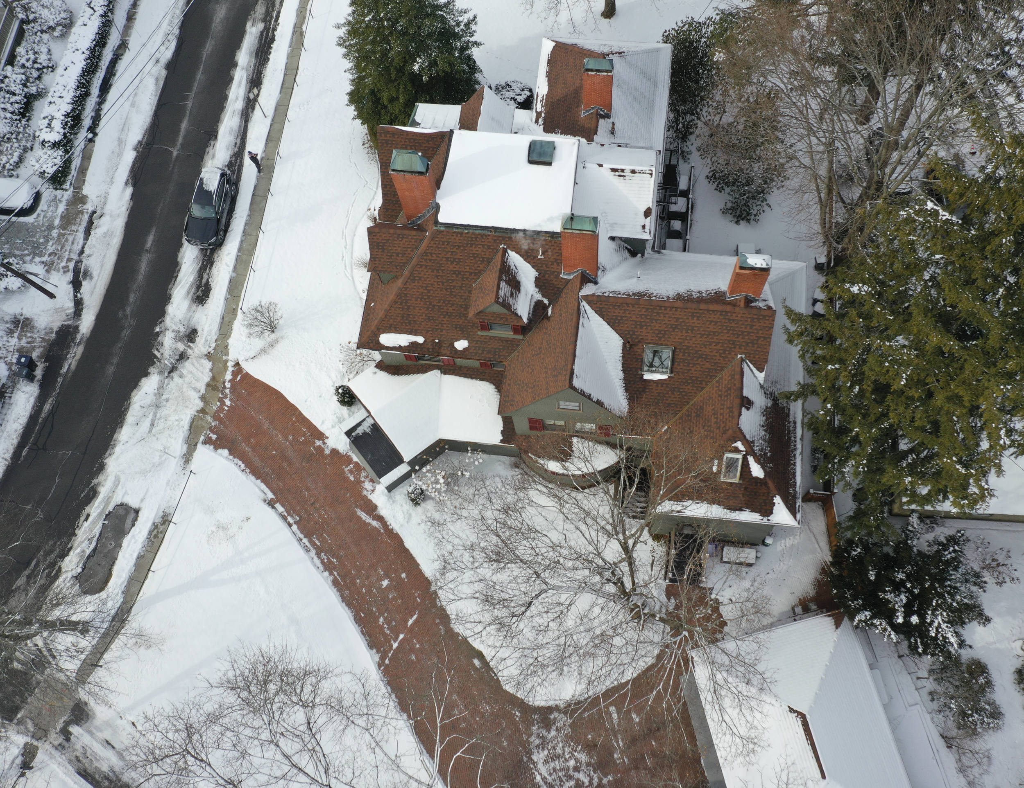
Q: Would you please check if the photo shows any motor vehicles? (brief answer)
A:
Yes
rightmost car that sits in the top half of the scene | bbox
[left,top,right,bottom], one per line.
[181,167,233,245]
